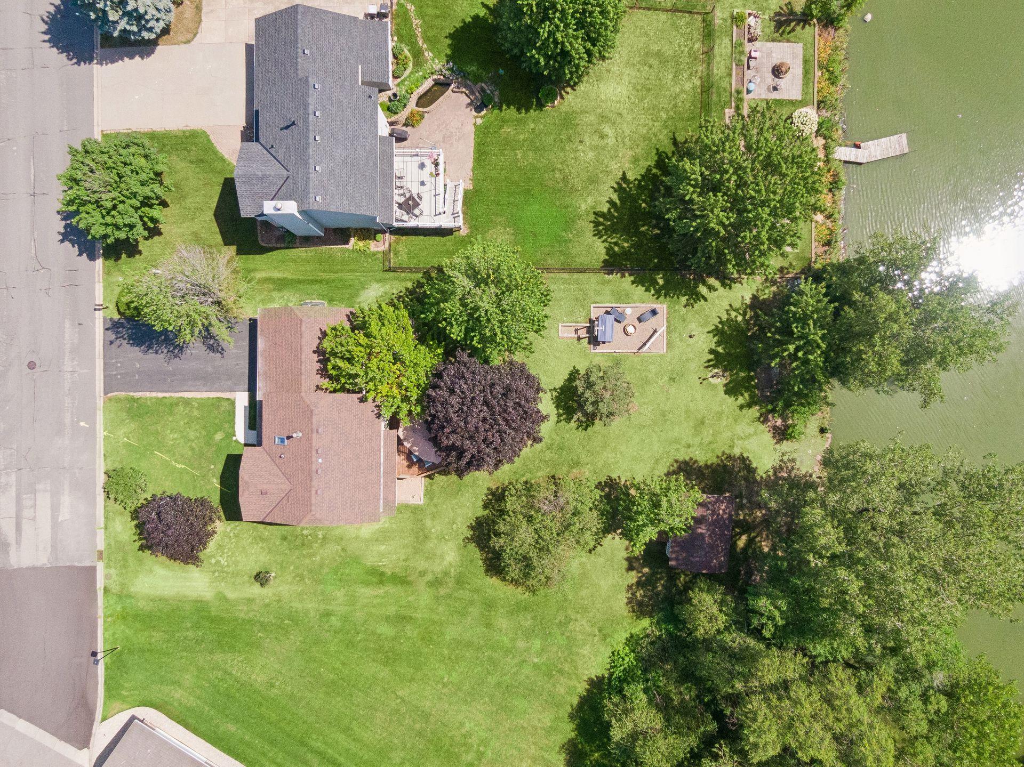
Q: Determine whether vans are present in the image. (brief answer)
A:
No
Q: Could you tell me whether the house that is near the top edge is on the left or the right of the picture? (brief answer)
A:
left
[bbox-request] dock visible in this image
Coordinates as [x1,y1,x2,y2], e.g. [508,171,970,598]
[834,128,918,163]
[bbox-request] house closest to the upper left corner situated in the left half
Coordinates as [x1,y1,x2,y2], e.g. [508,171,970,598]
[222,2,405,236]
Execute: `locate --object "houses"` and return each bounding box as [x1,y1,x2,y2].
[222,2,405,236]
[238,306,403,526]
[101,719,225,767]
